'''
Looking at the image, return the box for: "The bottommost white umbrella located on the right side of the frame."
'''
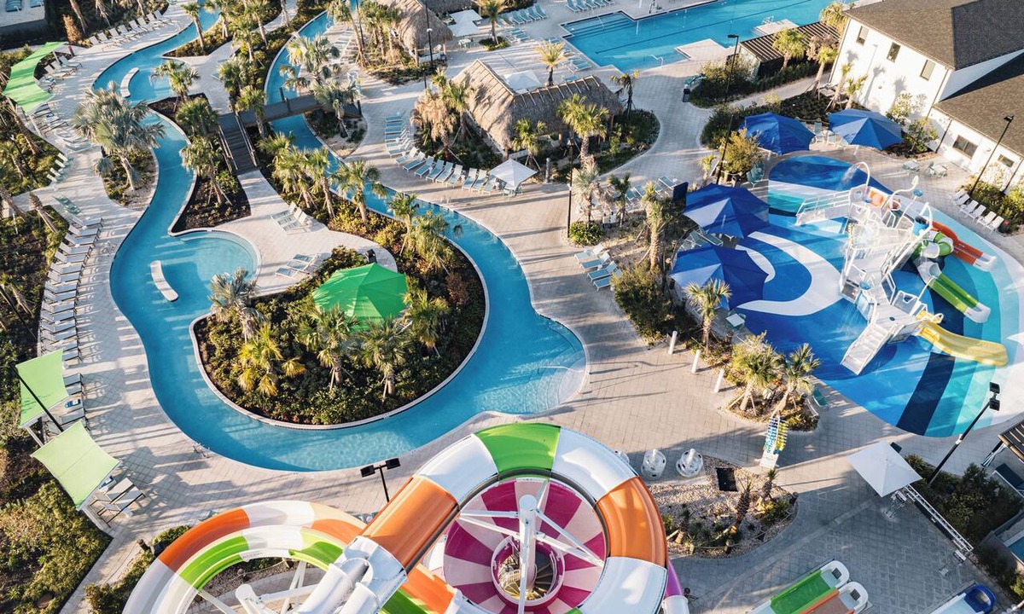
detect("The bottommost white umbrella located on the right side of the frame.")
[846,440,922,502]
